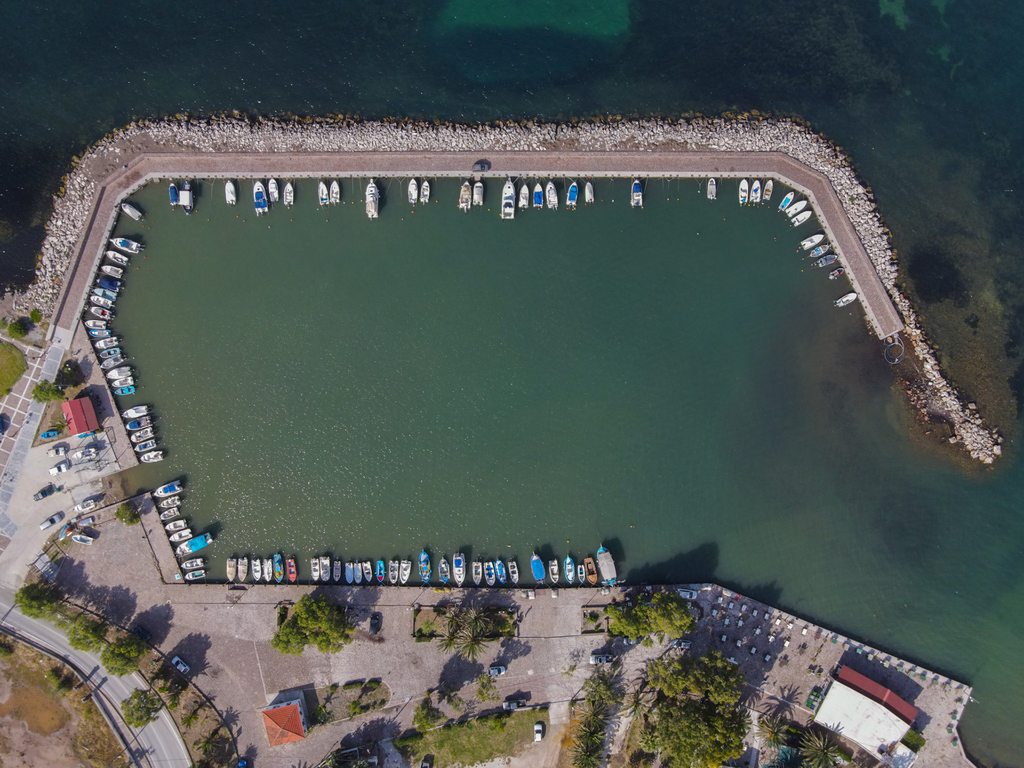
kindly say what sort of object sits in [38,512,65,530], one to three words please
vehicle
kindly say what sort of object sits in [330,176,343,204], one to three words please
boat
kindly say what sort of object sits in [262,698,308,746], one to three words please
house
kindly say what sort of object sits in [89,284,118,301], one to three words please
boat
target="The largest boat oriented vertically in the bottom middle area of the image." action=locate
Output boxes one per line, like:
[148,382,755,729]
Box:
[599,545,617,588]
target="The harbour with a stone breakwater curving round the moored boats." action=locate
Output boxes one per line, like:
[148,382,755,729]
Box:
[47,153,980,768]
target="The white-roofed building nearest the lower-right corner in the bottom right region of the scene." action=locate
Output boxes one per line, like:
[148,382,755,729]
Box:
[809,663,919,768]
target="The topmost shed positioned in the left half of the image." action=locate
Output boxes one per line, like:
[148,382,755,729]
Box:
[62,396,103,436]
